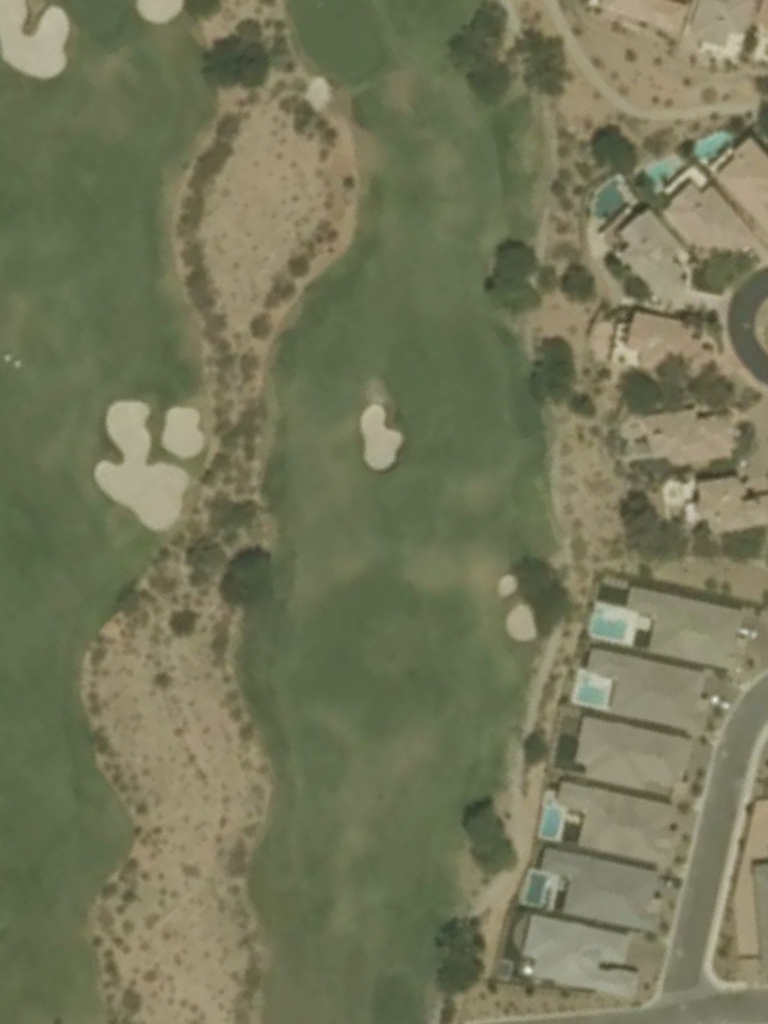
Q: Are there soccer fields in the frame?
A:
No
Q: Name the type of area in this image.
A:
golf course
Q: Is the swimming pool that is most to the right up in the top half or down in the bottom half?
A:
top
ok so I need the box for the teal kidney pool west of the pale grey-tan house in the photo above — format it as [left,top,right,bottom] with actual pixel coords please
[590,175,639,224]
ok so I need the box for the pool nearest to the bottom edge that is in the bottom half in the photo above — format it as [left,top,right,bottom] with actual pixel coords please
[518,868,564,912]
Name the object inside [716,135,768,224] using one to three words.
house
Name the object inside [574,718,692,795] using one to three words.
house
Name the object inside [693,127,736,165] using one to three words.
swimming pool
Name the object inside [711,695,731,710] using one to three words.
car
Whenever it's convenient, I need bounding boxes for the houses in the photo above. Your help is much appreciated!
[666,168,754,260]
[620,212,694,303]
[589,649,703,733]
[557,783,677,863]
[687,478,768,535]
[539,850,657,929]
[627,587,743,665]
[628,311,711,381]
[522,917,636,1000]
[574,718,692,795]
[716,135,768,224]
[690,0,758,50]
[631,412,740,464]
[589,0,673,32]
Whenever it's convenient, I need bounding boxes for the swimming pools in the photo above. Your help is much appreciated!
[693,127,736,165]
[588,600,651,648]
[590,175,639,224]
[645,154,685,191]
[572,668,612,710]
[518,868,564,912]
[539,791,580,843]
